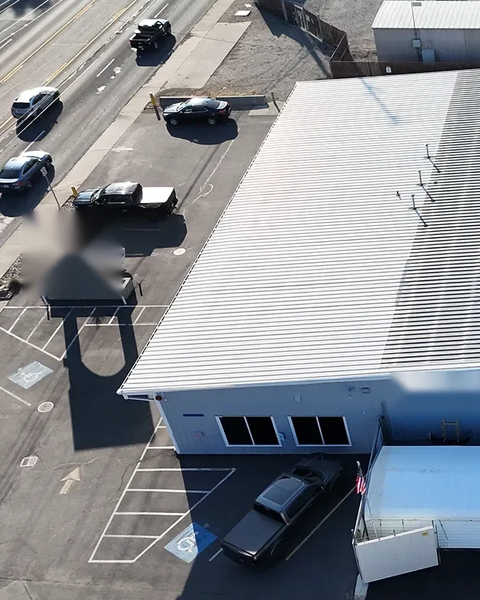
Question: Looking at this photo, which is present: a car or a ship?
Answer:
car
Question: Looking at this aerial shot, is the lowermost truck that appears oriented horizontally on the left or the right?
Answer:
left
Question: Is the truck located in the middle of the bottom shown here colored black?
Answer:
Yes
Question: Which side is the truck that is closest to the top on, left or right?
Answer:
left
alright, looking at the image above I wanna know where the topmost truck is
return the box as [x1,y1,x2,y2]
[124,11,177,47]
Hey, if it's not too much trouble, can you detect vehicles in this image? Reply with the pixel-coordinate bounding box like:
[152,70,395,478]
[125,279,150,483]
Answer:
[0,147,58,193]
[156,93,238,123]
[7,88,64,124]
[218,452,364,581]
[124,11,177,47]
[73,168,187,212]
